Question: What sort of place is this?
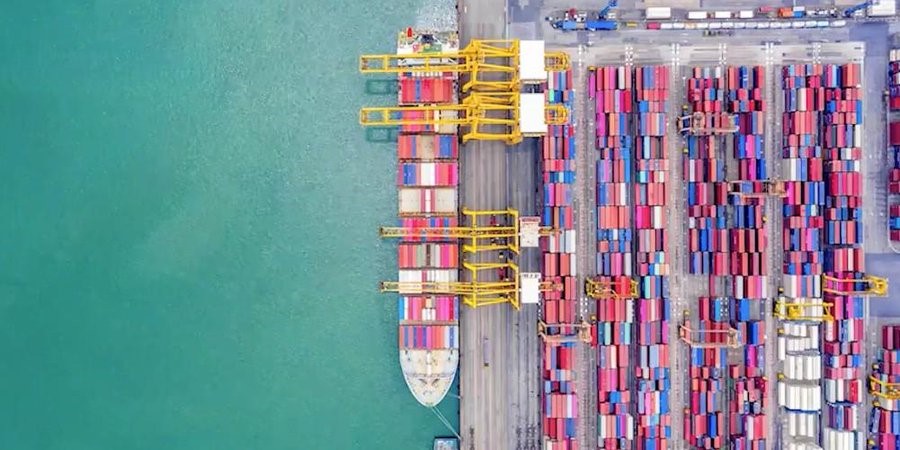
port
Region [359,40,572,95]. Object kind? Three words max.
container crane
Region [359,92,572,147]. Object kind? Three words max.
container crane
